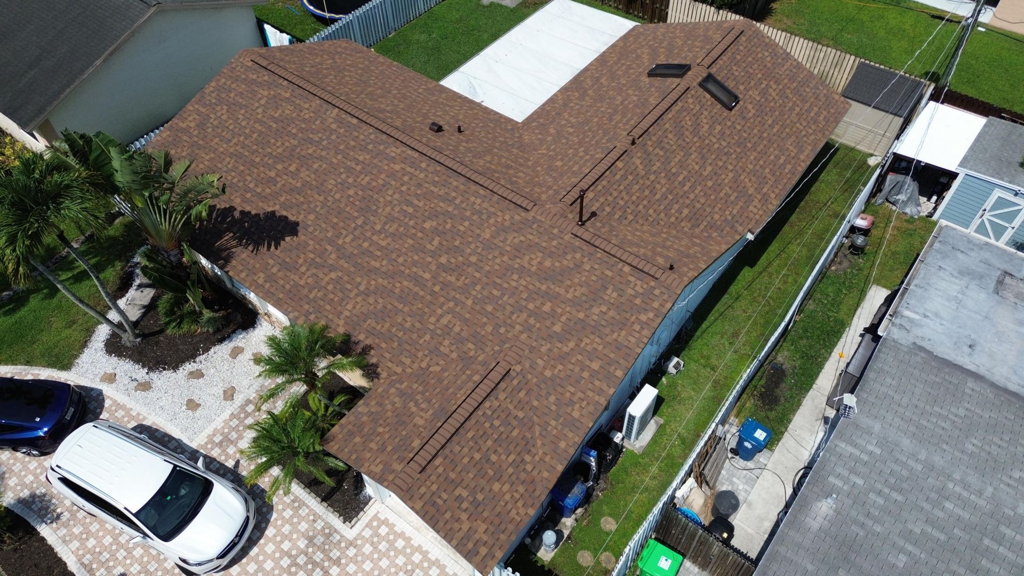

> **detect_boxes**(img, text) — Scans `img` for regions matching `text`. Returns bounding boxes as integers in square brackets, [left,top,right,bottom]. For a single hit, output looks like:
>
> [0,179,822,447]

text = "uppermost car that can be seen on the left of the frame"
[0,371,89,459]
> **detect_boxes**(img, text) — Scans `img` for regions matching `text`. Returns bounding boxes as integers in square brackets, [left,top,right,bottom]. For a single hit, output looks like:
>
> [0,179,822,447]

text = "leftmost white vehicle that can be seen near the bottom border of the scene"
[38,416,261,576]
